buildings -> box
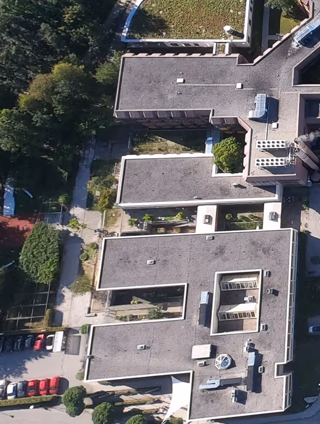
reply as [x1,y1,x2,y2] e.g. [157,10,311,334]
[85,229,304,422]
[115,0,320,185]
